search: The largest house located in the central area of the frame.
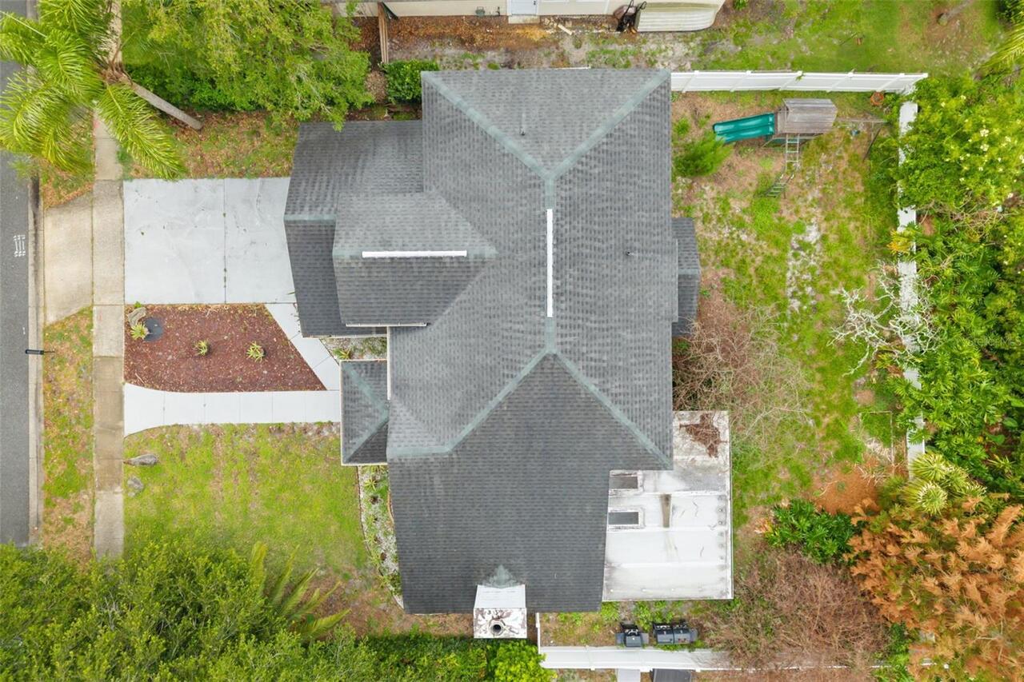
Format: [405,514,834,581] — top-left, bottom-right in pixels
[284,66,734,638]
